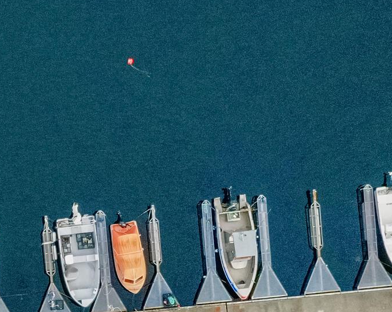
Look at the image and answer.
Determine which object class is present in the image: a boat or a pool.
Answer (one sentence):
There is a boat in the scene.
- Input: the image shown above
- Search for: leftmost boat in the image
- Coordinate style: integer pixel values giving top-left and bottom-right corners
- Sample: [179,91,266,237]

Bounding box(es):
[58,200,101,307]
